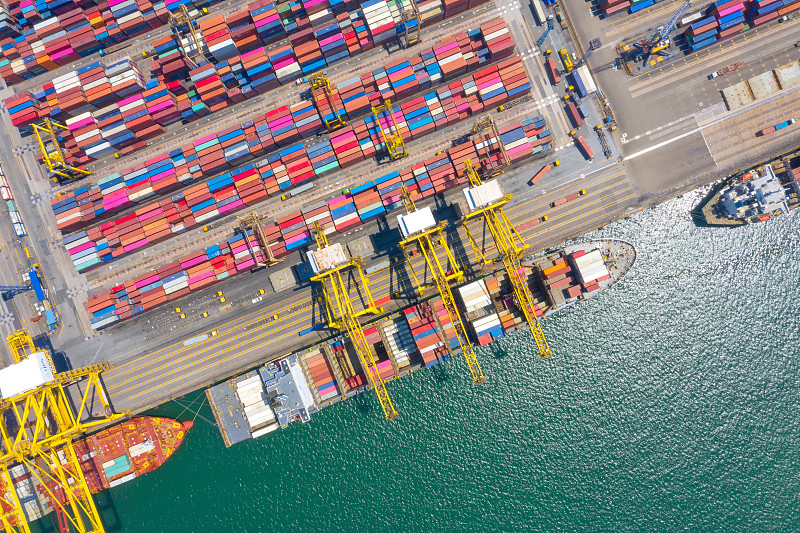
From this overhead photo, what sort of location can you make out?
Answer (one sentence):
The picture captures a port.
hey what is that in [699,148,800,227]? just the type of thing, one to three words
ship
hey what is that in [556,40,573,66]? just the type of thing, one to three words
work vehicle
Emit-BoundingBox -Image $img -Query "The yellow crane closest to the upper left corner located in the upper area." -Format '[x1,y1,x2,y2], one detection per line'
[28,115,95,181]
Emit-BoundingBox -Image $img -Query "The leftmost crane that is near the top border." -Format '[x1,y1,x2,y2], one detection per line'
[157,9,204,73]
